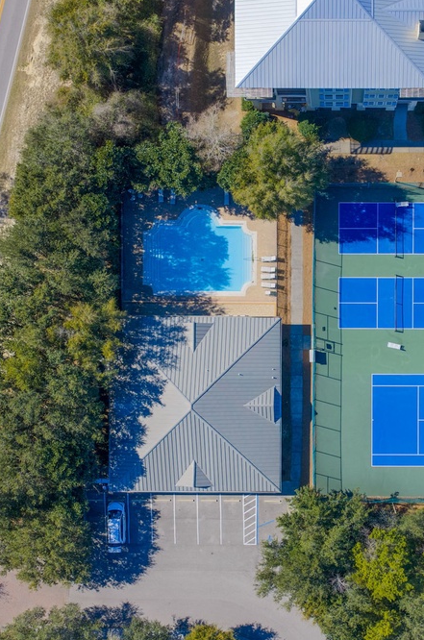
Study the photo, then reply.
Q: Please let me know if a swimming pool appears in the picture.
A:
Yes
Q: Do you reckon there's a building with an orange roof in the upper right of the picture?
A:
No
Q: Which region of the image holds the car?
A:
bottom left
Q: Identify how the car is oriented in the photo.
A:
from top to bottom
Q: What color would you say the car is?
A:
blue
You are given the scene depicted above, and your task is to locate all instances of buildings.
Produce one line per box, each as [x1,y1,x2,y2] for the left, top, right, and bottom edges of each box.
[226,0,424,111]
[95,315,282,494]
